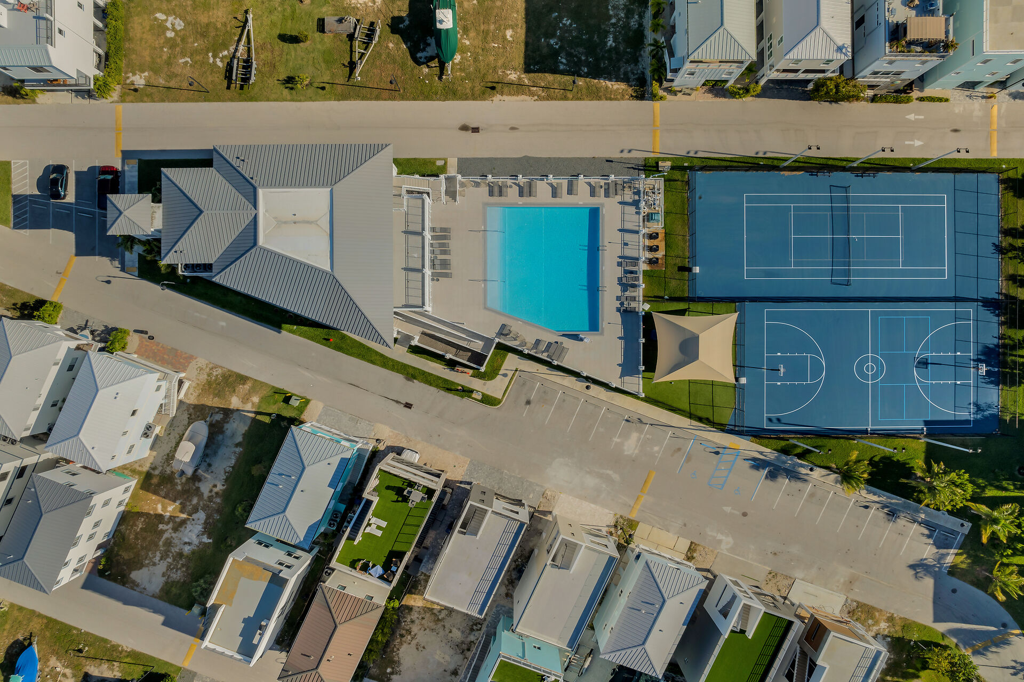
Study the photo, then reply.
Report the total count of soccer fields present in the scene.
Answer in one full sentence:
The count of soccer fields is 0.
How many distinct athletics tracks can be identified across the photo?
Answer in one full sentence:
There are no athletics tracks in the image.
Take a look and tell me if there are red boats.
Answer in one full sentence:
No, there is no red boat in the image.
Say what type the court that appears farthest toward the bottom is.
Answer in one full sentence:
In the photo, the court that appears farthest toward the bottom shows up as a basketball court.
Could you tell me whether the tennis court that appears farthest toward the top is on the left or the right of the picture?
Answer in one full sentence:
You can find the tennis court that appears farthest toward the top on the right side of the picture.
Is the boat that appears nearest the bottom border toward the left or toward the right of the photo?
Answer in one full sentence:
The boat that appears nearest the bottom border sits on the left side.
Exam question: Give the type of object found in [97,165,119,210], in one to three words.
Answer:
truck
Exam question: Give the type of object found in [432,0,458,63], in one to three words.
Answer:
boat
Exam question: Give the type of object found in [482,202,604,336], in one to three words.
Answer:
swimming pool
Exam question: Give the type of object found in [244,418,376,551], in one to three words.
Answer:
house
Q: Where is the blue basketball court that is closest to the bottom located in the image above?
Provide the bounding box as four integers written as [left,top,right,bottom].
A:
[726,302,1000,441]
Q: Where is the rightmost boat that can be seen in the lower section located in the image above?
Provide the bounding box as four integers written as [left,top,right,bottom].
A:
[155,422,204,486]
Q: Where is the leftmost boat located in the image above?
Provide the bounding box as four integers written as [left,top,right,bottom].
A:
[10,640,39,682]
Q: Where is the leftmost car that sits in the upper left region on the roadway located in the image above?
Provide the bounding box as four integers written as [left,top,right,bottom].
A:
[45,163,67,199]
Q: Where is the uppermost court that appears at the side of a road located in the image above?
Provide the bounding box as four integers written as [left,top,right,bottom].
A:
[689,171,1000,299]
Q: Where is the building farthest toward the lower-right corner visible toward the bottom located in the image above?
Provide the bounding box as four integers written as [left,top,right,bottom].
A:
[768,587,891,682]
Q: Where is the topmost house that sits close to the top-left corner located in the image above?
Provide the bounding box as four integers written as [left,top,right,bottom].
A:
[0,0,114,94]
